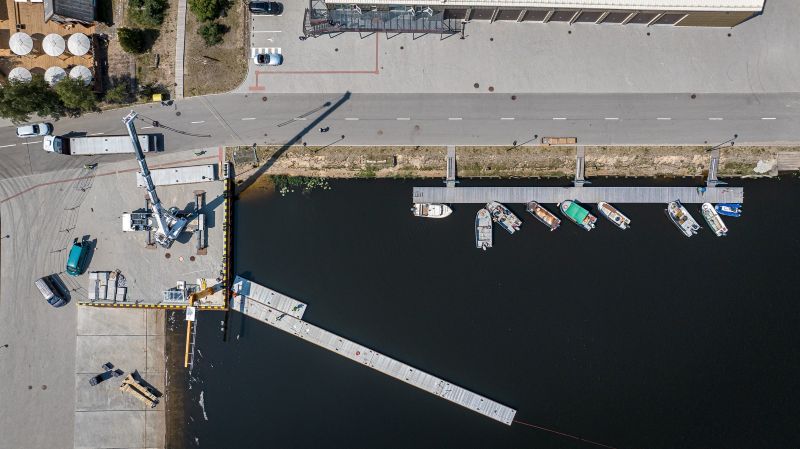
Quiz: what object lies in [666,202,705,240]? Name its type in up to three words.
boat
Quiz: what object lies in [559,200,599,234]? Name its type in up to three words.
boat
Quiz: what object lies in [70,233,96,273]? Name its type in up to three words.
vehicle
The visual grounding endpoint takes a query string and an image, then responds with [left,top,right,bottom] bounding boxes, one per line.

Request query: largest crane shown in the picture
[123,105,214,254]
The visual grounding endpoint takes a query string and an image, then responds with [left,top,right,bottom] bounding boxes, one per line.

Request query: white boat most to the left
[411,205,453,219]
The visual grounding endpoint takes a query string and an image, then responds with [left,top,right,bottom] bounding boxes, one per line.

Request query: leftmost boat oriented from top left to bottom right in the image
[490,202,523,235]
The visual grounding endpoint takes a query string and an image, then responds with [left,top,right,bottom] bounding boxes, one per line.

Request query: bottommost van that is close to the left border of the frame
[38,274,70,306]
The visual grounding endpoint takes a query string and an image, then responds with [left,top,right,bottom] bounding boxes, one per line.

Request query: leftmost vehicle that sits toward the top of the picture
[16,121,52,137]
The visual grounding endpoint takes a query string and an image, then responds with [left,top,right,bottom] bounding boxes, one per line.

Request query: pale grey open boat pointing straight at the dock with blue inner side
[475,208,493,251]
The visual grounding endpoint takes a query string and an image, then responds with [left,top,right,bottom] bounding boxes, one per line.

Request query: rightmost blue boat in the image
[716,204,746,217]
